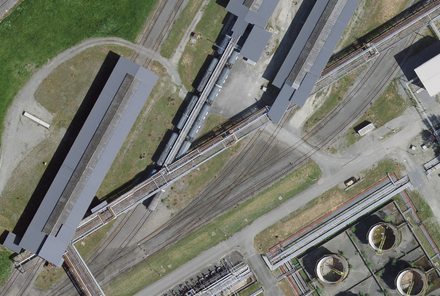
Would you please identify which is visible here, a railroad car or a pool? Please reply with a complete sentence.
The image shows a railroad car.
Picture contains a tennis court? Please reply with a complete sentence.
No, the scene contains no tennis court.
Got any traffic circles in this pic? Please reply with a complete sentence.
No, I can see no traffic circle in this picture.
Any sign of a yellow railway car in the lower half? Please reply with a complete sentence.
No, no yellow railway car appears in the lower half.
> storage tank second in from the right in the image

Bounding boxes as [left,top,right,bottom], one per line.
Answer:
[366,222,398,254]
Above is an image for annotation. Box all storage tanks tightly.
[396,266,428,296]
[366,222,398,254]
[316,254,348,285]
